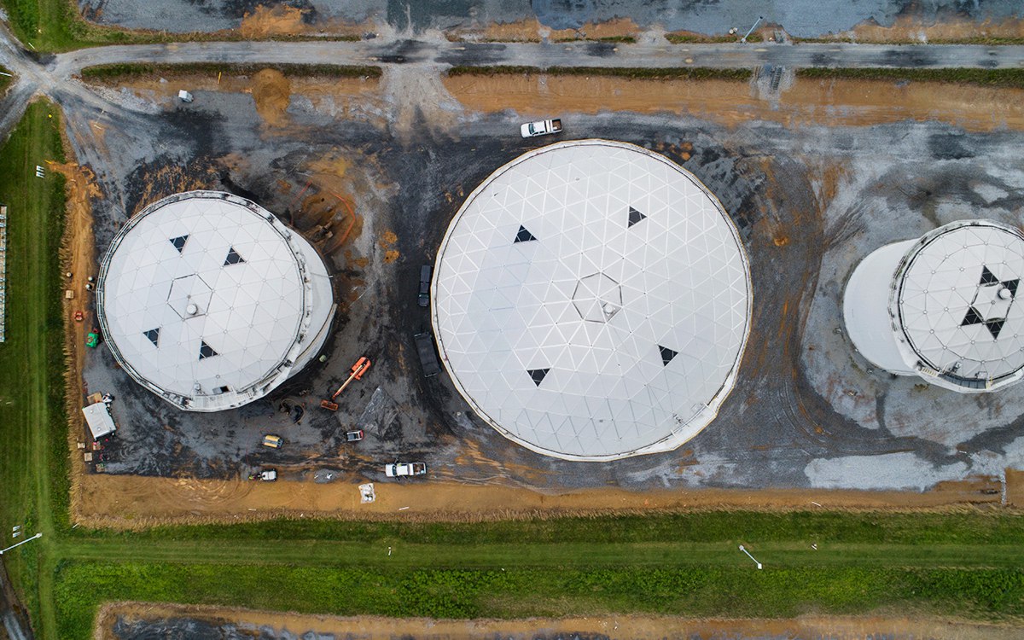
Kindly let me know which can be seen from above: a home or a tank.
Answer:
tank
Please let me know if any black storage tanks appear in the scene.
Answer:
No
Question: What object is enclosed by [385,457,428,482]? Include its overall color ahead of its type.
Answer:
white truck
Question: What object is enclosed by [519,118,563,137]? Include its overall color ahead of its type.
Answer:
white vehicle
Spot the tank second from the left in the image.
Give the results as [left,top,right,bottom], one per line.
[430,138,755,462]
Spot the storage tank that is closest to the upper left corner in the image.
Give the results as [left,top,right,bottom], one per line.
[93,190,337,413]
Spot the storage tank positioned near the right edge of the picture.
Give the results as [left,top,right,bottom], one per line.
[840,217,1024,392]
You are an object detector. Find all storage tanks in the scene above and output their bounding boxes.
[93,190,337,413]
[430,138,755,462]
[840,217,1024,392]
